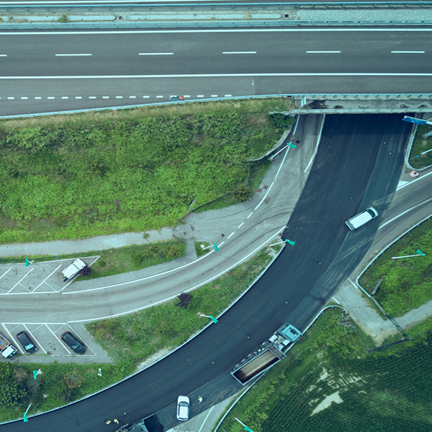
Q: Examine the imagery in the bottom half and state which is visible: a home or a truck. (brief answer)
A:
truck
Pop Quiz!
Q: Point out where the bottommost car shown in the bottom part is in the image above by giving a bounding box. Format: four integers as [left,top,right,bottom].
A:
[176,394,190,420]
